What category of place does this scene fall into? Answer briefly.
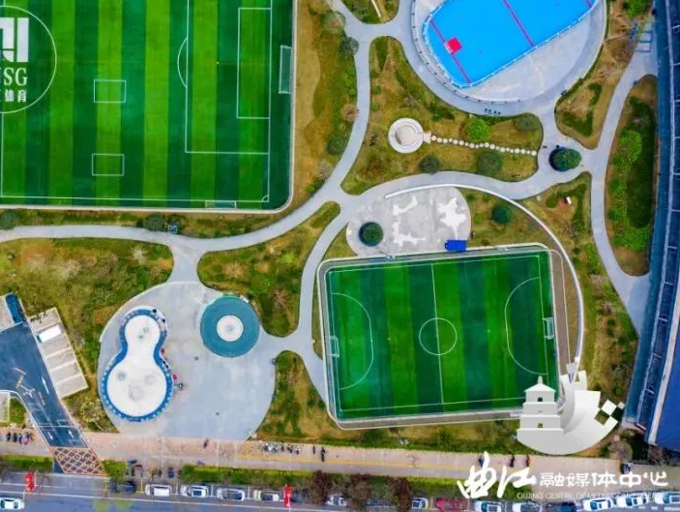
sports ground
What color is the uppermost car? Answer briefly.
blue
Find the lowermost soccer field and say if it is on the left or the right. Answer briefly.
right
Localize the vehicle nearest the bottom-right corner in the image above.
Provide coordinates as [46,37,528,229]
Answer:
[652,490,680,507]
